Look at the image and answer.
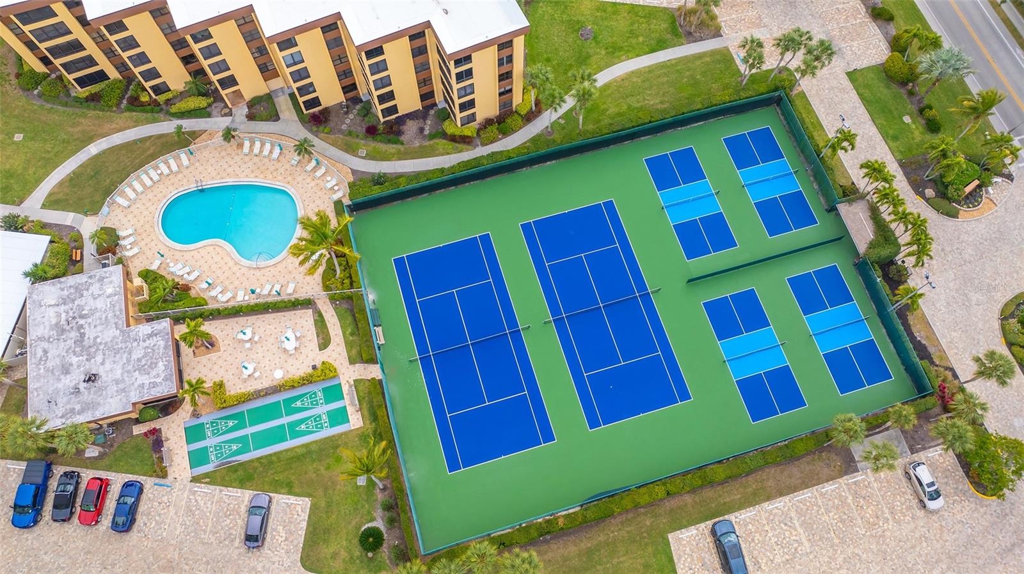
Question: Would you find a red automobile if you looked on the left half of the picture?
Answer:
Yes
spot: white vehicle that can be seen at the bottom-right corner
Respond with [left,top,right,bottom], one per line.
[907,459,945,513]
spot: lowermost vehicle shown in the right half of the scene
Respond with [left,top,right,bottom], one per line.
[715,520,751,574]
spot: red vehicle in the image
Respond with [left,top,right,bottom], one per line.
[79,477,112,527]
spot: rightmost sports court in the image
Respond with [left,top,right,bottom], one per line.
[785,263,895,396]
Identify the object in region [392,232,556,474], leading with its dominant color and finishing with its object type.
blue tennis court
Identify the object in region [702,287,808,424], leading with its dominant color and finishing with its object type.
blue sports court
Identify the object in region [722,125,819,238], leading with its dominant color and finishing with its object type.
blue sports court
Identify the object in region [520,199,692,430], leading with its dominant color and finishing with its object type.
blue tennis court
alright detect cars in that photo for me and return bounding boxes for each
[50,471,83,523]
[79,477,112,527]
[907,459,945,513]
[243,493,272,549]
[109,479,147,534]
[715,520,751,574]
